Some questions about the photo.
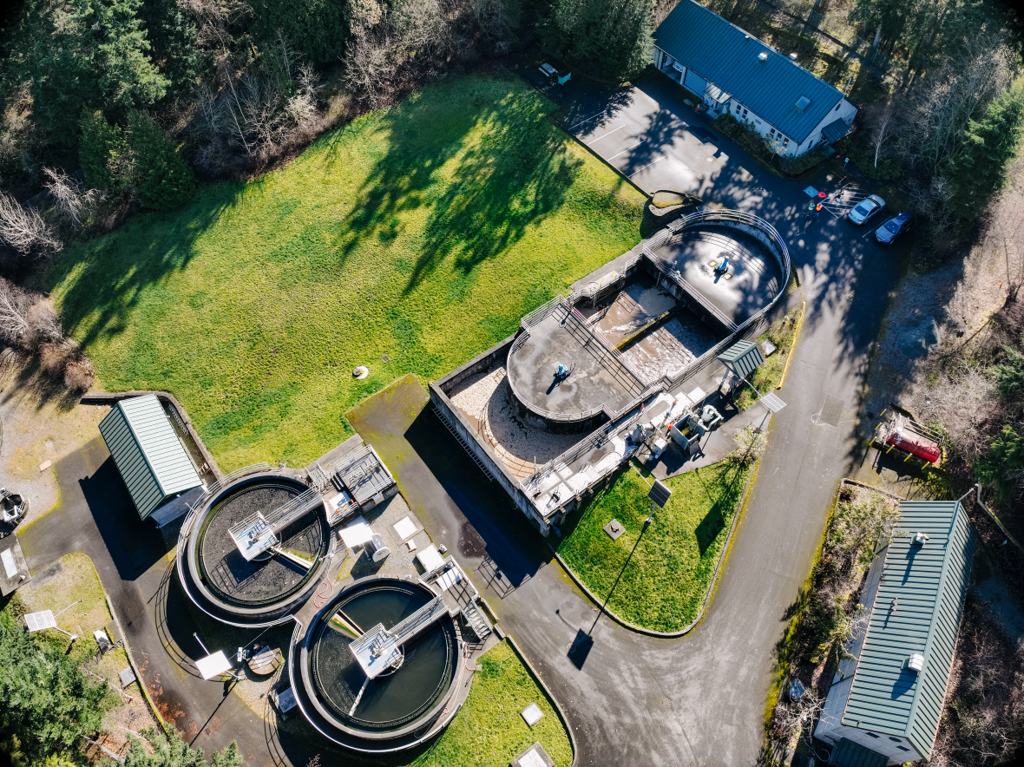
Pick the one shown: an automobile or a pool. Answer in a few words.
automobile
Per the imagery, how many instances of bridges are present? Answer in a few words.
2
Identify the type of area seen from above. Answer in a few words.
industrial area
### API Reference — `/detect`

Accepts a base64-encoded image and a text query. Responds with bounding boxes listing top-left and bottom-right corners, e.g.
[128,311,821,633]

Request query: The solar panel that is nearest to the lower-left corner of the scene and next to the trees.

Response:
[26,609,55,633]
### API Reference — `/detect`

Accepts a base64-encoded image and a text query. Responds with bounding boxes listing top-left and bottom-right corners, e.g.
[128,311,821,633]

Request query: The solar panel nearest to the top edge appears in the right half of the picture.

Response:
[762,393,785,411]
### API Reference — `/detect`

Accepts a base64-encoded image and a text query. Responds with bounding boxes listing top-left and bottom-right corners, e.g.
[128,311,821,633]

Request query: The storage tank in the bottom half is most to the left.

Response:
[0,480,31,529]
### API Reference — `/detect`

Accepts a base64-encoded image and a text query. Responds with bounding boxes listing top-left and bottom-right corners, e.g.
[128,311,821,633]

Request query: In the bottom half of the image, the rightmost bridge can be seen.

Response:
[388,592,454,653]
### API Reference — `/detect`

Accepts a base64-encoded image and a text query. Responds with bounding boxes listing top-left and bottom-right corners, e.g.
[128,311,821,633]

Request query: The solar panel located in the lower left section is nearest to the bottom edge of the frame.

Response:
[197,650,230,680]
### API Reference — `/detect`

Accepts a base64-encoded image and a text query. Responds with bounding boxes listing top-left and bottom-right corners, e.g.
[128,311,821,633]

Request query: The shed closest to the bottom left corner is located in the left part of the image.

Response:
[98,395,213,533]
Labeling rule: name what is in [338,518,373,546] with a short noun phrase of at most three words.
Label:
solar panel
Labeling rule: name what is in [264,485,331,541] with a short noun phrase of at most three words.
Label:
bridge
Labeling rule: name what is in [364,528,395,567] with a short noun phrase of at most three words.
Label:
storage tank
